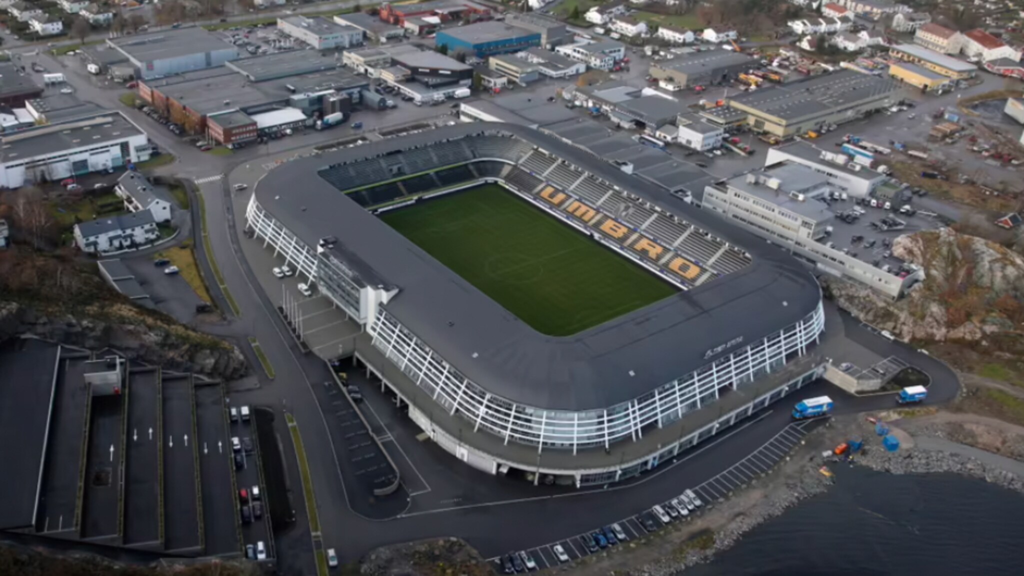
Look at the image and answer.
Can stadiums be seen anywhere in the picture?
Yes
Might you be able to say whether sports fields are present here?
Yes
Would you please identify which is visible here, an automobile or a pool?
automobile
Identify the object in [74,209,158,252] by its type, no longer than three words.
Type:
house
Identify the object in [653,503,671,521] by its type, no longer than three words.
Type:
vehicle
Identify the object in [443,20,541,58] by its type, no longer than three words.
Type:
building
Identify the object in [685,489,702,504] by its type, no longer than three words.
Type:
car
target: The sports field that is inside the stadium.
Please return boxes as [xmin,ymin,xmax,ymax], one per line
[370,184,679,336]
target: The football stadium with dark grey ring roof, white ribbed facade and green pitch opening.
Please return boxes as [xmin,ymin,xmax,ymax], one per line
[206,114,851,489]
